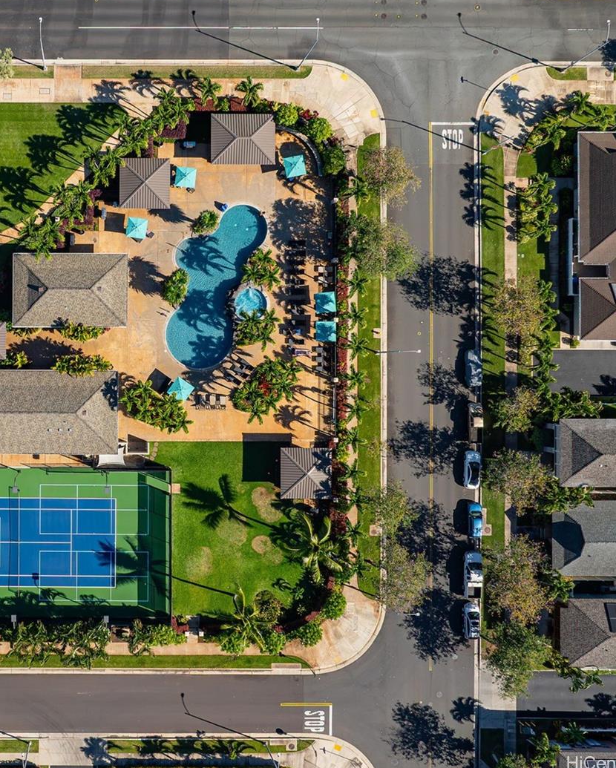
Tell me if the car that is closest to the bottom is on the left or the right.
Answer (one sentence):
The car that is closest to the bottom sits on the right side.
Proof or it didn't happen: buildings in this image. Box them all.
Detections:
[538,419,616,487]
[0,370,118,455]
[209,113,276,168]
[0,320,7,361]
[568,131,616,340]
[277,447,332,500]
[550,596,616,668]
[542,501,616,577]
[118,158,171,210]
[12,253,129,328]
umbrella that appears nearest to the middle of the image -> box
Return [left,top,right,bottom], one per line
[313,320,335,342]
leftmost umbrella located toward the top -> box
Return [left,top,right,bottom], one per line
[125,217,147,239]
